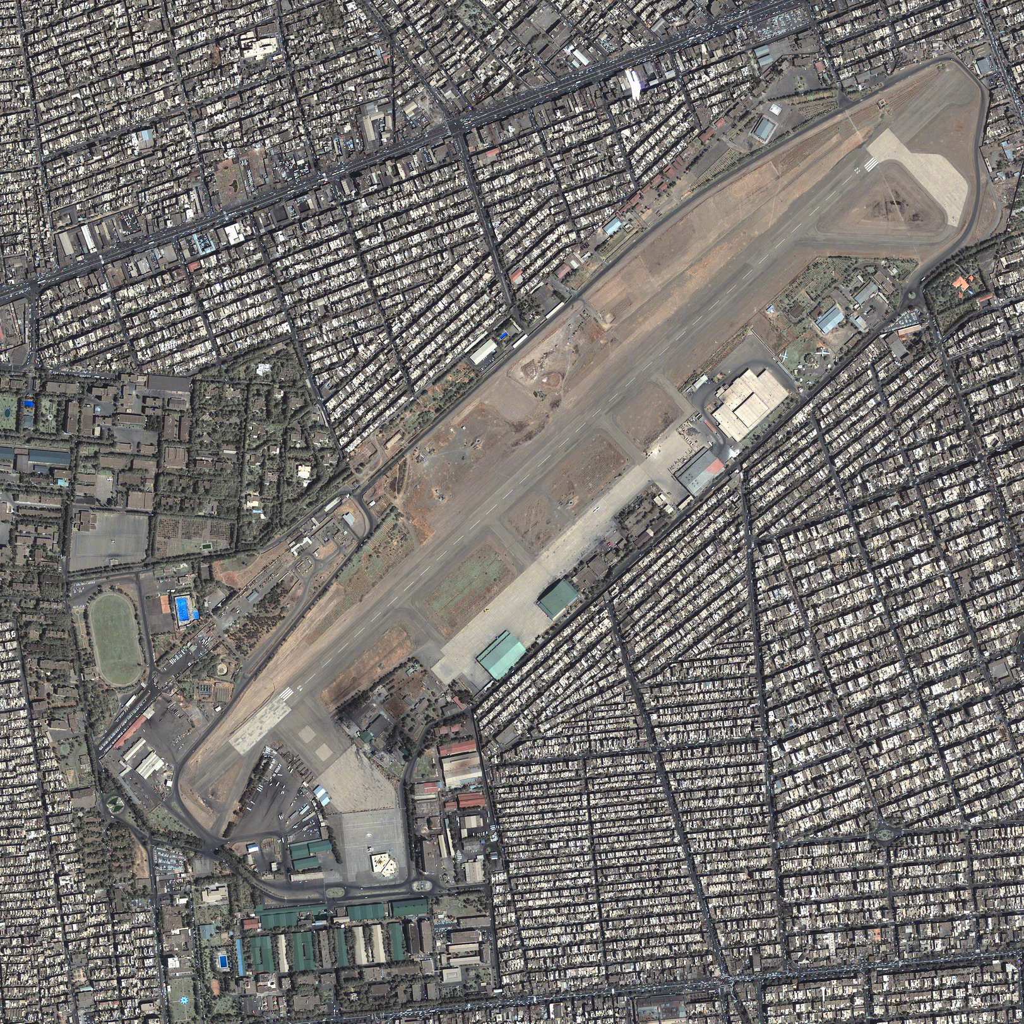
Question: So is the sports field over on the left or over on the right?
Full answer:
The sports field appears in the left half of the scene.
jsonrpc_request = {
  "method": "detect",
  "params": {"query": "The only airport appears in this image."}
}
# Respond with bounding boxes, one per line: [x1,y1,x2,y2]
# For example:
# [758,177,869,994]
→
[181,61,982,886]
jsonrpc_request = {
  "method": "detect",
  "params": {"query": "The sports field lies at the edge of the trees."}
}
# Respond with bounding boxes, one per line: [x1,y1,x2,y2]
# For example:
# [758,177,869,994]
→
[86,589,147,689]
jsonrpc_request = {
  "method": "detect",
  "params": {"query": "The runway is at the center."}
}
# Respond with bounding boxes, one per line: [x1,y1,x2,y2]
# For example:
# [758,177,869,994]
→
[275,152,876,708]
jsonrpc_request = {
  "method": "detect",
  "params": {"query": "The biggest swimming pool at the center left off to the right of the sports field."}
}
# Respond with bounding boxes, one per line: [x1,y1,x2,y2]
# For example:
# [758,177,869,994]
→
[175,595,198,626]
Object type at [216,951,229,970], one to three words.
swimming pool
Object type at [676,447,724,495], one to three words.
hangar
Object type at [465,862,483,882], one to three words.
building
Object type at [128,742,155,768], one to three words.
building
